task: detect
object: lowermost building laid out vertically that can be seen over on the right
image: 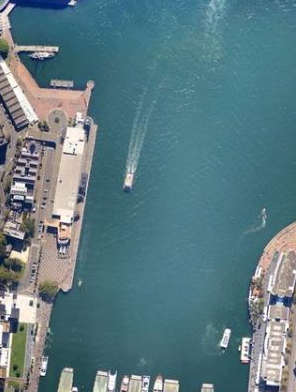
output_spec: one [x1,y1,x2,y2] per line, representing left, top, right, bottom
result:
[263,319,288,388]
